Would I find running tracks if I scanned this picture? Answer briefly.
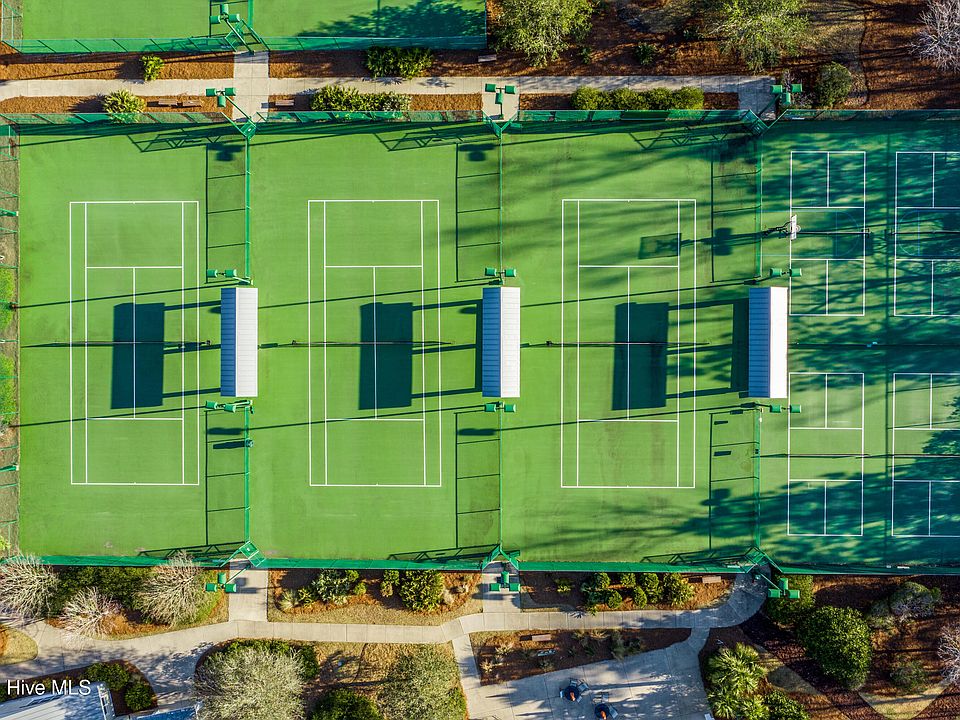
No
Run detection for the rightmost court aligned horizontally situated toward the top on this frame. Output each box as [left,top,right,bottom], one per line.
[248,0,485,52]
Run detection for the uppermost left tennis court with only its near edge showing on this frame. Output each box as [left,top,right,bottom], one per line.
[22,0,248,54]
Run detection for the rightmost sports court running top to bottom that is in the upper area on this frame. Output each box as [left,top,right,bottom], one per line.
[895,151,960,316]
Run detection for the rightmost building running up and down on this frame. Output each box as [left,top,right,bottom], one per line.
[749,285,789,398]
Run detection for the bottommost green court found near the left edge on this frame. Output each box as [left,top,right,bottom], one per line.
[19,124,249,557]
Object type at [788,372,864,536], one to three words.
sports court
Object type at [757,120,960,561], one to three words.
basketball court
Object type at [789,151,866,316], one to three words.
sports court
